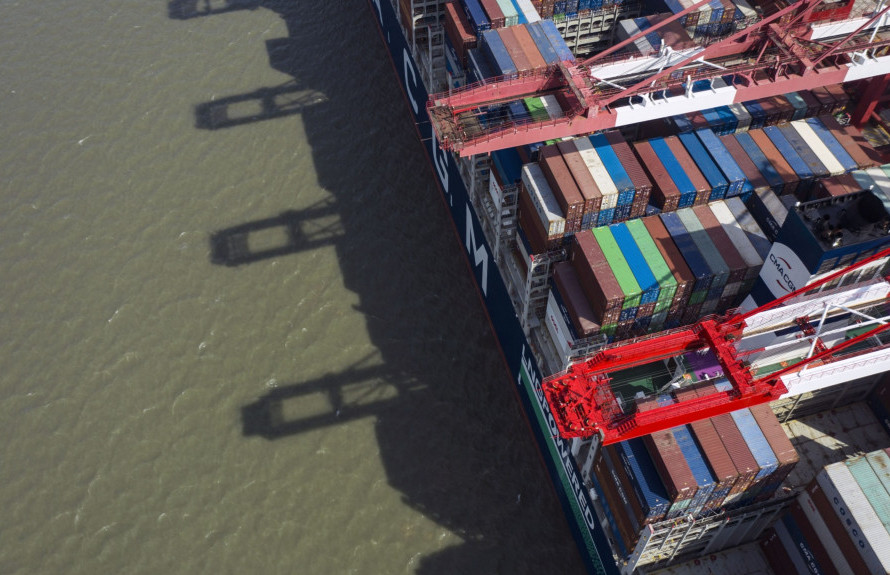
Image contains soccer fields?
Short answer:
No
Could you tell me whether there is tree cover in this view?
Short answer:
No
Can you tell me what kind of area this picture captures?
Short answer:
port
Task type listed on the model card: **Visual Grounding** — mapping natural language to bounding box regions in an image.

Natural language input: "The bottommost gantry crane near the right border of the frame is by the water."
[541,254,890,452]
